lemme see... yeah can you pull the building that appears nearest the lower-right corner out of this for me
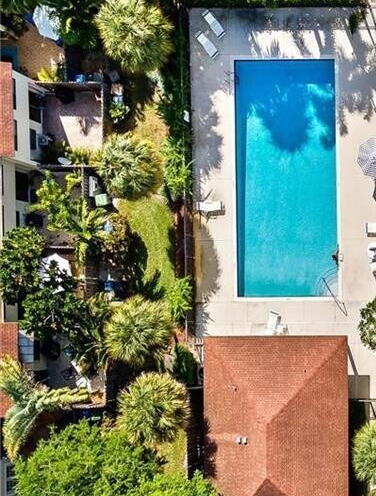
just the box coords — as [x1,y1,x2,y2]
[203,335,356,496]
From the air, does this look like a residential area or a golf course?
residential area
